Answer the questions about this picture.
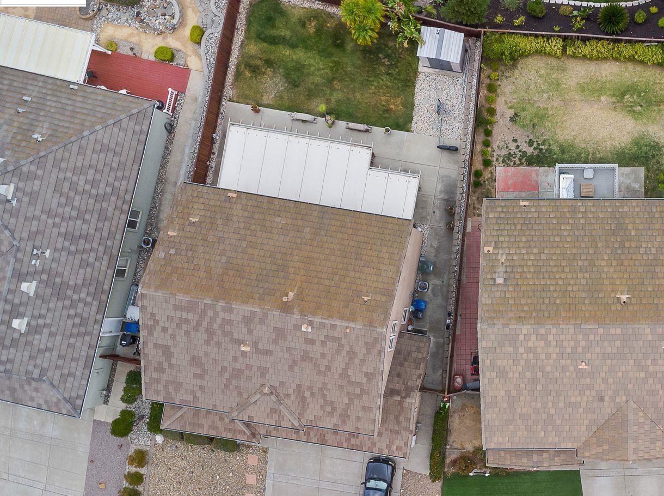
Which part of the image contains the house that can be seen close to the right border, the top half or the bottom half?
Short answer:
bottom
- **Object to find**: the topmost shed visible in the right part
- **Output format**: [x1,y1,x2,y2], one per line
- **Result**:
[418,27,466,71]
